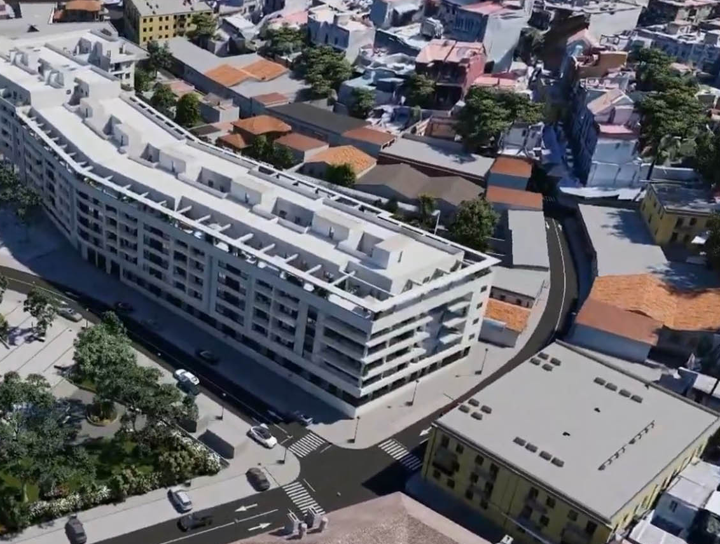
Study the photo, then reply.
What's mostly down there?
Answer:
buildings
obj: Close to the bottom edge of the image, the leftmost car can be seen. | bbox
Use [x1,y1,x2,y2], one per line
[63,514,87,544]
